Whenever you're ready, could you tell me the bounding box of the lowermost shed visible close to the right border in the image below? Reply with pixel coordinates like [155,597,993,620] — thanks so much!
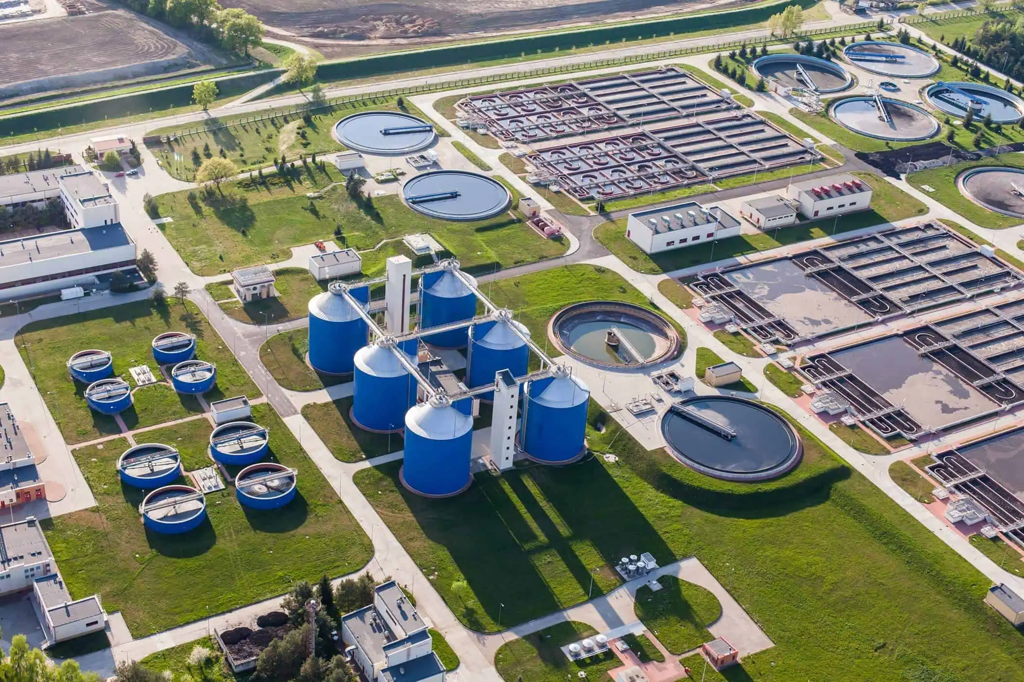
[983,585,1024,623]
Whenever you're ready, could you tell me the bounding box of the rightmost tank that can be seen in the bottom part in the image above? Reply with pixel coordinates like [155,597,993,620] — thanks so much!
[658,395,803,482]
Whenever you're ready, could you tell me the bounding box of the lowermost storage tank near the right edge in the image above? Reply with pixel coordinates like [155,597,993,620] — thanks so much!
[959,167,1024,219]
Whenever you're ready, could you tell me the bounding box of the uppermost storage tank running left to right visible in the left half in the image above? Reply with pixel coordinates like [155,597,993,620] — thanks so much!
[336,110,436,154]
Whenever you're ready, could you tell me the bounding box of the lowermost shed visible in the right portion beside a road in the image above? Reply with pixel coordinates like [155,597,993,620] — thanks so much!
[702,637,737,671]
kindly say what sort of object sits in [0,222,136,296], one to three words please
building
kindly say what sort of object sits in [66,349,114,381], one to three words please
storage tank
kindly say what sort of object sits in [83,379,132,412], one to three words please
storage tank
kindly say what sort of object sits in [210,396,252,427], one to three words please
shed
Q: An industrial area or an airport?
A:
industrial area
